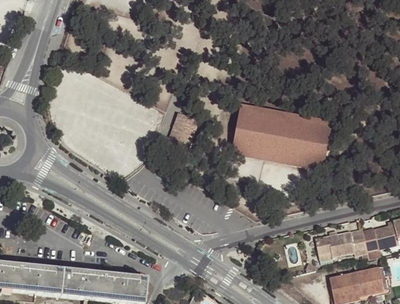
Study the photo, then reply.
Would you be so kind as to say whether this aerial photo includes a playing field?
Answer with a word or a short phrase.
Yes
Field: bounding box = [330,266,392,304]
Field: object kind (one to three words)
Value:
house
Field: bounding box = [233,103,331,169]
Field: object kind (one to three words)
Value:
building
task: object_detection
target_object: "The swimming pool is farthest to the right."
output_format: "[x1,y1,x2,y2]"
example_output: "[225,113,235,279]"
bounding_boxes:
[386,258,400,286]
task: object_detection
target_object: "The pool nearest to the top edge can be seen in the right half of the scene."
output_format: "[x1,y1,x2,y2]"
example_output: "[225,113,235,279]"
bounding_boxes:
[286,242,302,268]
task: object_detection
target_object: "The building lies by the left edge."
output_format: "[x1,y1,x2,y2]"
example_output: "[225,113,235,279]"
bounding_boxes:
[0,260,149,304]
